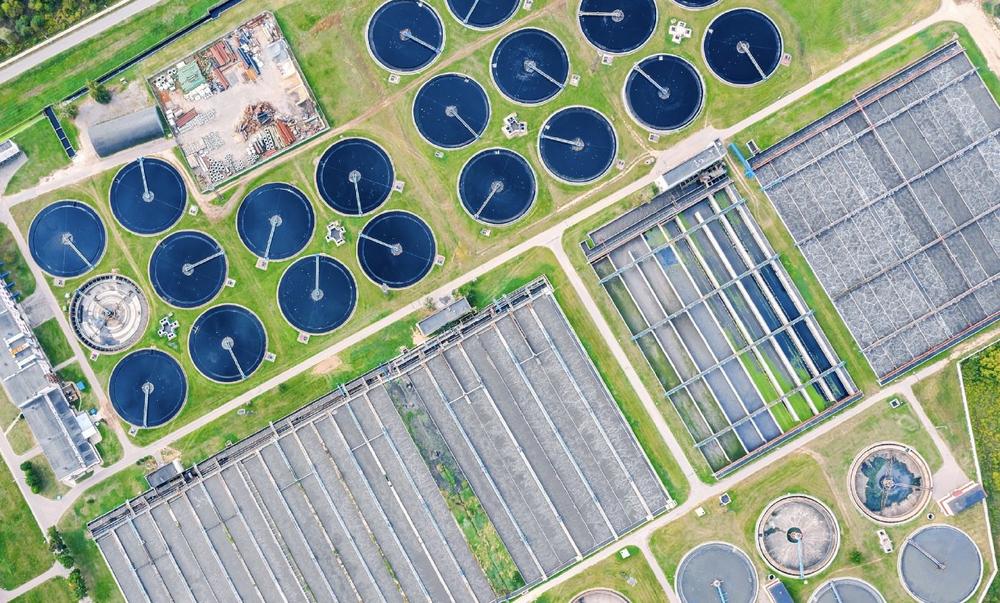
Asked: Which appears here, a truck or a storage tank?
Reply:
storage tank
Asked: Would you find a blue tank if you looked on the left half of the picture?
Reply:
Yes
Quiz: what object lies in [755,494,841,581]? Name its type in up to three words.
storage tank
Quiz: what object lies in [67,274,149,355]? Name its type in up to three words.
storage tank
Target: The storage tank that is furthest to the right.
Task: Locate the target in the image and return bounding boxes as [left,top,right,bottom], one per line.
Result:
[897,523,984,603]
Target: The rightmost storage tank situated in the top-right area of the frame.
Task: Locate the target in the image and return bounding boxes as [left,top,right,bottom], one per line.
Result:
[701,5,784,88]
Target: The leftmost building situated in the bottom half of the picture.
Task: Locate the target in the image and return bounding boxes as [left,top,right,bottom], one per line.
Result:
[0,261,105,489]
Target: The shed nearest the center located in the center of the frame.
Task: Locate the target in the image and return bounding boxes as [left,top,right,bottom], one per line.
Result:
[417,298,472,335]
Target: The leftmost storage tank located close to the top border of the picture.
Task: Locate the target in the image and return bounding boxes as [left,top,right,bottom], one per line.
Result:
[365,0,445,74]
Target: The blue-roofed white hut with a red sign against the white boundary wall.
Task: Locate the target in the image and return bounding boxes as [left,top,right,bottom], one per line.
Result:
[936,481,986,517]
